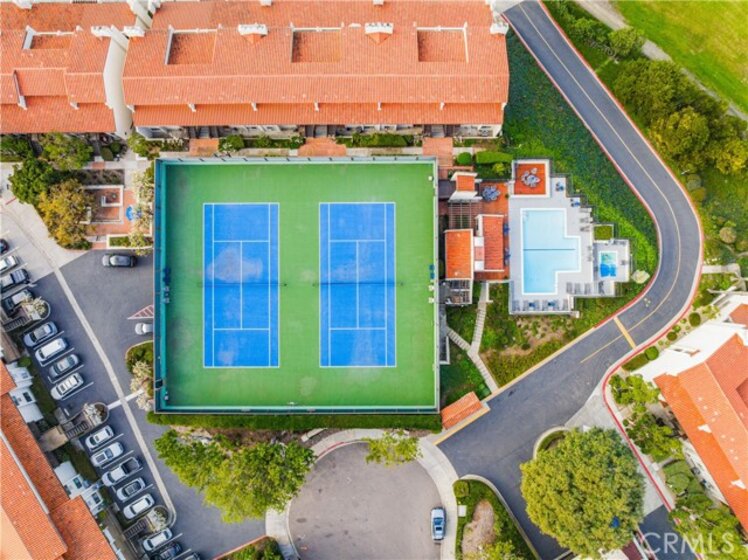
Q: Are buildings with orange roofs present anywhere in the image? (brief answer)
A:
Yes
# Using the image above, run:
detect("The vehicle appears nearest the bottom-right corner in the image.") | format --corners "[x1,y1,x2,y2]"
[431,505,446,540]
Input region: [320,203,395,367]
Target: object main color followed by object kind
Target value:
blue tennis court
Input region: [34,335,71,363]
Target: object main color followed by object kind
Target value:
white car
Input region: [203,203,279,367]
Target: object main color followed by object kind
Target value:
blue tennis court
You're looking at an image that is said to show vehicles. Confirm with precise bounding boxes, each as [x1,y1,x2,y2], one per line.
[431,505,446,540]
[141,523,175,551]
[90,440,126,467]
[102,253,137,268]
[0,250,23,277]
[47,353,82,379]
[101,454,143,486]
[177,547,207,560]
[34,335,71,363]
[24,319,59,345]
[115,475,148,501]
[0,264,32,294]
[122,491,157,518]
[50,372,87,399]
[136,321,154,336]
[152,537,186,560]
[84,423,118,448]
[2,284,37,310]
